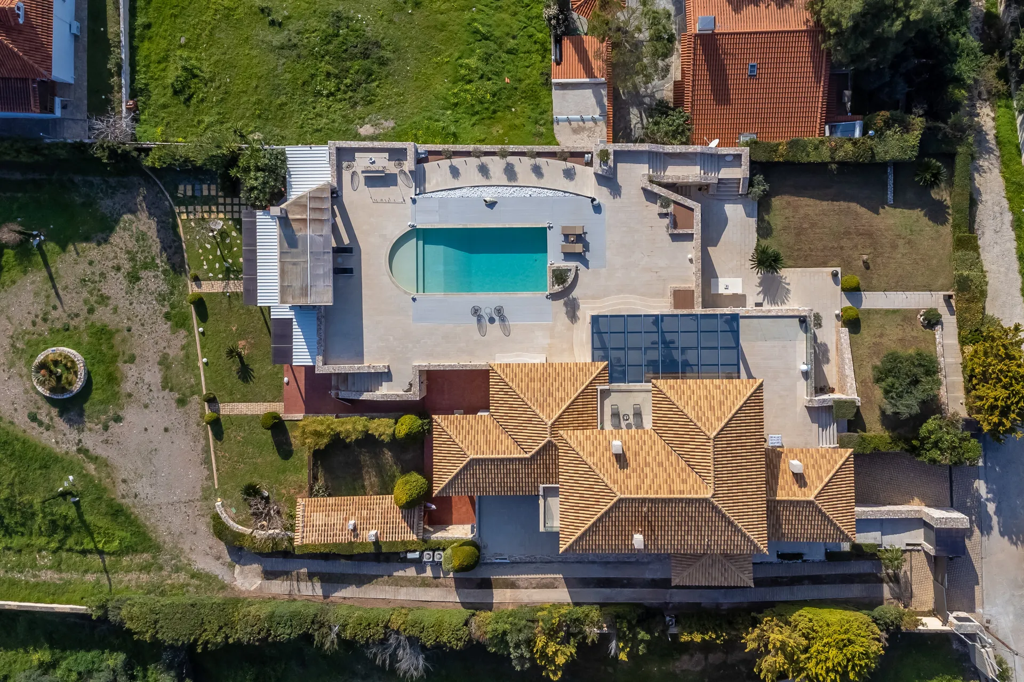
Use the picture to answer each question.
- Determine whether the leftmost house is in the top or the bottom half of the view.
top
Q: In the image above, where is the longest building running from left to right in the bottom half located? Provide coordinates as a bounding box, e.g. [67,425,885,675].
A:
[431,361,858,589]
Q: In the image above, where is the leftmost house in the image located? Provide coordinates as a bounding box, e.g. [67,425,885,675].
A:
[0,0,81,124]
